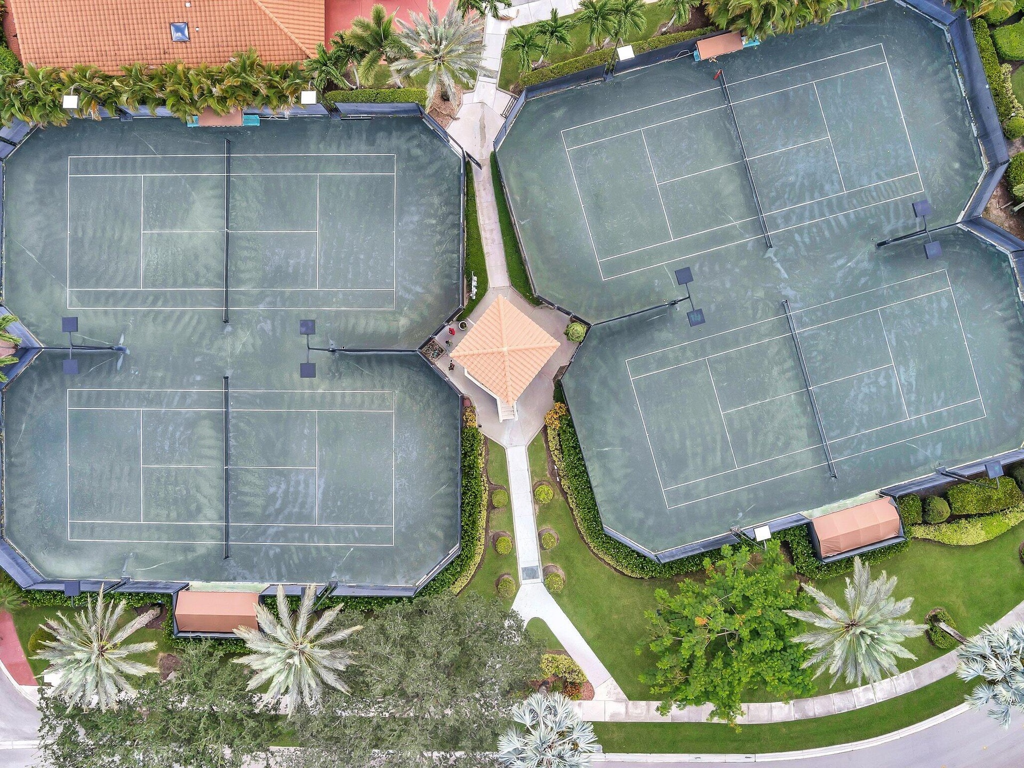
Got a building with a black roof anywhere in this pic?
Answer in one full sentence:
No, there is no building with a black roof in the image.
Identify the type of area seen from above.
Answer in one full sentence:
The picture captures a sports ground.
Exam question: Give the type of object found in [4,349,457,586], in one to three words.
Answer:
tennis court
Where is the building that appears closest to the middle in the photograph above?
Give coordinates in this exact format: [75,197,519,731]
[450,294,560,423]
